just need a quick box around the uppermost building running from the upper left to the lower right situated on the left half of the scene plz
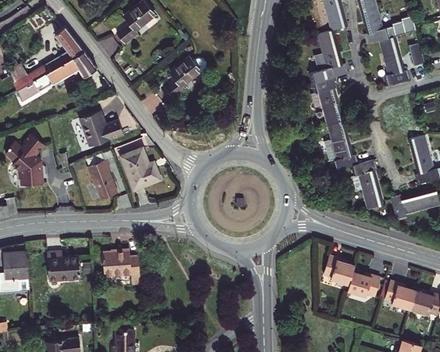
[55,28,82,56]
